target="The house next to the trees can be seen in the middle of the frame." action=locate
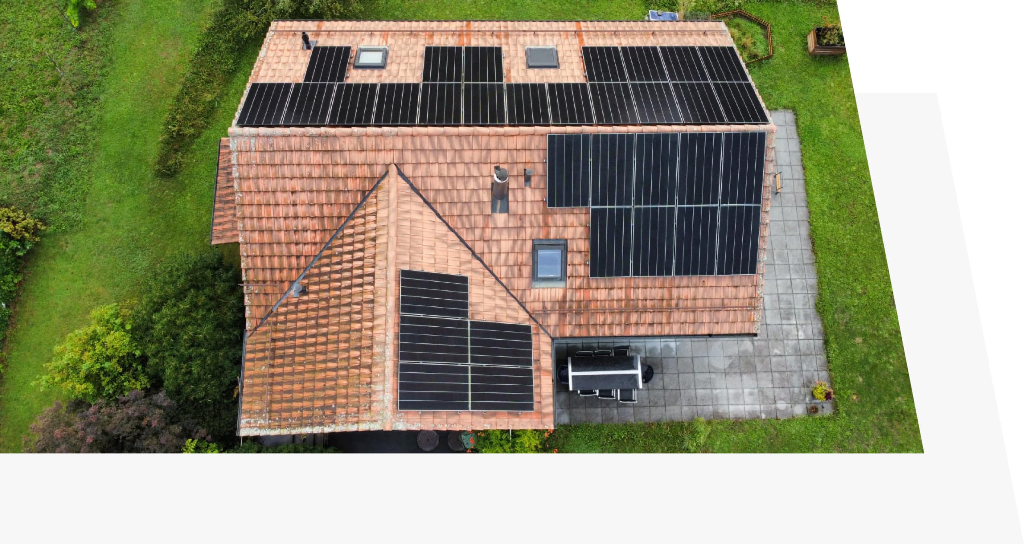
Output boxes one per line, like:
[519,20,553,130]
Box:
[207,18,778,437]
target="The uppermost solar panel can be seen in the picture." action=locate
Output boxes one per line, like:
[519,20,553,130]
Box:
[648,6,679,19]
